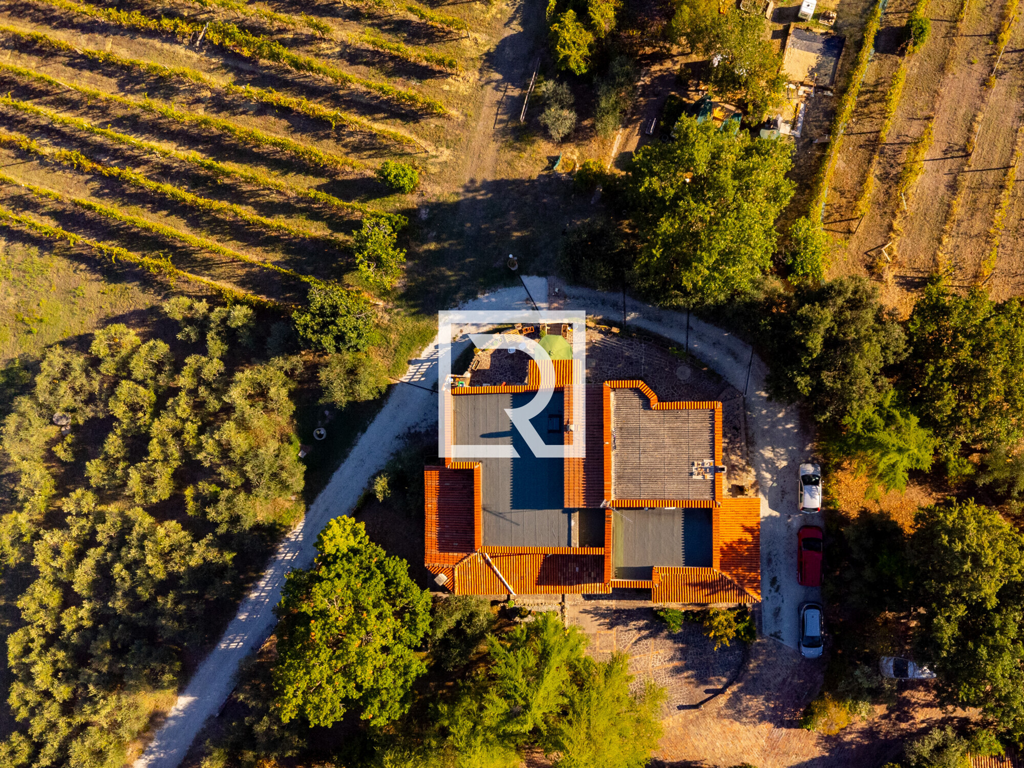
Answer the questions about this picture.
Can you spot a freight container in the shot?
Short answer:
No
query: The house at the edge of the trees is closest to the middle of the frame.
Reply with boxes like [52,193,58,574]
[424,359,763,604]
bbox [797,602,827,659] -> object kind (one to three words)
car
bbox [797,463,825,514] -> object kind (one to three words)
car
